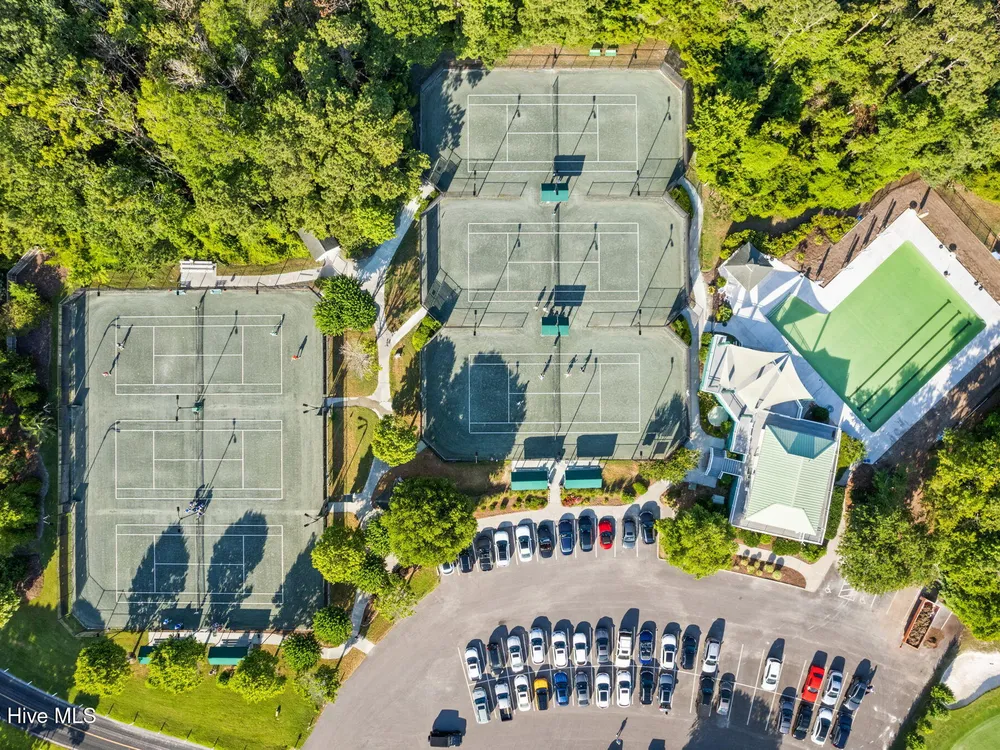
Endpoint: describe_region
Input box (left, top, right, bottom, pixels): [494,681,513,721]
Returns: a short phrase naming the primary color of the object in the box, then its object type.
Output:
white vehicle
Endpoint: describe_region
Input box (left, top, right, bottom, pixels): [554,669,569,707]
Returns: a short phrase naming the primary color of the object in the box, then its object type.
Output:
blue car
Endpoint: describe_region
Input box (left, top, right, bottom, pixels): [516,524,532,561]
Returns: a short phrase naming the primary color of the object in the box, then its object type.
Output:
white car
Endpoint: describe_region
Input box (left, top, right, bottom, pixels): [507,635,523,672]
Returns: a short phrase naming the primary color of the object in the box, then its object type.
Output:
white car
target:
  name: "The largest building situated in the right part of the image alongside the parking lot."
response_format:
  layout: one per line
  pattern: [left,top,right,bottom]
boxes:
[695,335,840,544]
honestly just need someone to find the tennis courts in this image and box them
[74,289,326,407]
[422,196,689,326]
[74,512,326,630]
[422,327,690,460]
[422,68,685,196]
[74,407,326,512]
